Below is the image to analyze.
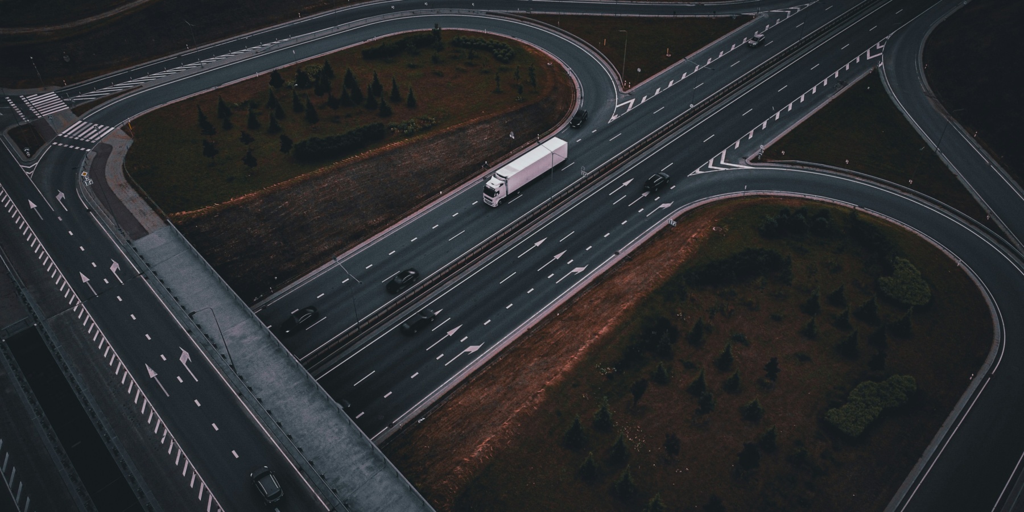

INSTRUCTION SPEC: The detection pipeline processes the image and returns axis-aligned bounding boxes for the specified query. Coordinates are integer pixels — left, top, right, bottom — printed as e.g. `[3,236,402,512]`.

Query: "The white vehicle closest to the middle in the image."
[483,135,570,205]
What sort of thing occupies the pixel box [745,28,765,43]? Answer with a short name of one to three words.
car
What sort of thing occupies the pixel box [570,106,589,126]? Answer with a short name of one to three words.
car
